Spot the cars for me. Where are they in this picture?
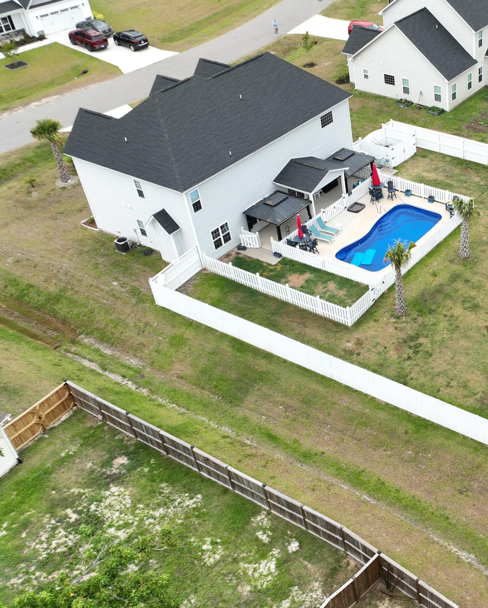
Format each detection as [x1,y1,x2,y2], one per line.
[345,18,382,33]
[68,27,106,50]
[74,14,107,31]
[112,28,149,50]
